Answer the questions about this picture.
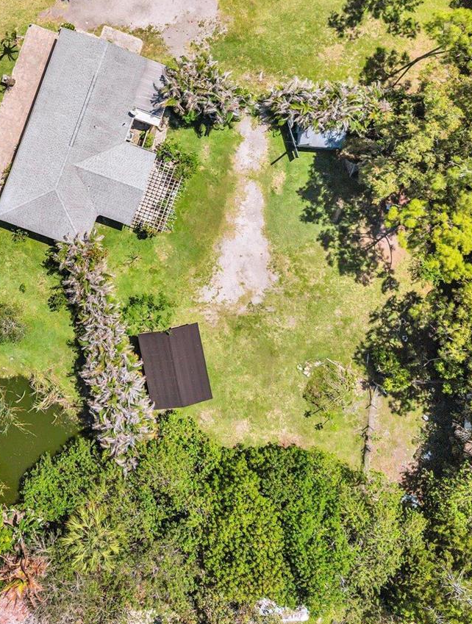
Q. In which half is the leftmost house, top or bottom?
top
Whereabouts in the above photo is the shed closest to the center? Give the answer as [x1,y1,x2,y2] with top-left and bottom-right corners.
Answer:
[138,322,212,409]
